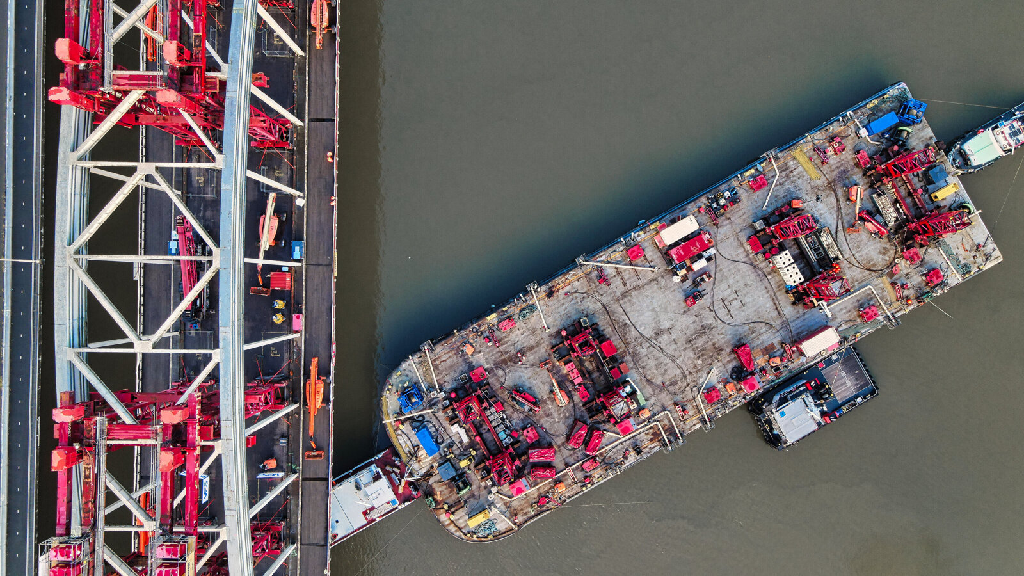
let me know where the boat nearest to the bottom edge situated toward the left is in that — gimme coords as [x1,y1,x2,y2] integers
[332,446,421,547]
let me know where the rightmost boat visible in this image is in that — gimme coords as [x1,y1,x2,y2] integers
[944,102,1024,173]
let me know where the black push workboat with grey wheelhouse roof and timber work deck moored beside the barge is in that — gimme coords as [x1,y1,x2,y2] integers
[744,346,886,452]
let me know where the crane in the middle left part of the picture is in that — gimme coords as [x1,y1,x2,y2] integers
[175,213,219,330]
